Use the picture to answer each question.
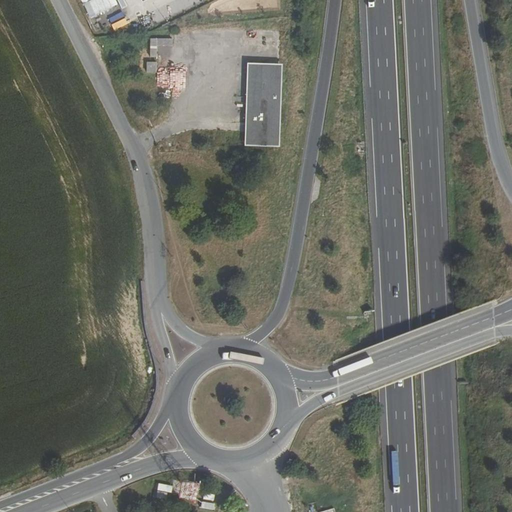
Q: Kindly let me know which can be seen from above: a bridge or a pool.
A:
bridge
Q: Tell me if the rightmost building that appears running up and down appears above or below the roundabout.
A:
above it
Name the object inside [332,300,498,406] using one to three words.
bridge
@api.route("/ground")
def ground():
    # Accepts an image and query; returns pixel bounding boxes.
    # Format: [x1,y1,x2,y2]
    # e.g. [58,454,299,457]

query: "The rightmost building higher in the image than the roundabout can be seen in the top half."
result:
[245,62,282,147]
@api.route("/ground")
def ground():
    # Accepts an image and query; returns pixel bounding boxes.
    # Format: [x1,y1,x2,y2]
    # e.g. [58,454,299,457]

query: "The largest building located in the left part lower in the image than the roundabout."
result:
[178,482,200,504]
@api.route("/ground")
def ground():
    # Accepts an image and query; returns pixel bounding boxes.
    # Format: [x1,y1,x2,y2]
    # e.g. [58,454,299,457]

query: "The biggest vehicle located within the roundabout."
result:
[222,352,264,364]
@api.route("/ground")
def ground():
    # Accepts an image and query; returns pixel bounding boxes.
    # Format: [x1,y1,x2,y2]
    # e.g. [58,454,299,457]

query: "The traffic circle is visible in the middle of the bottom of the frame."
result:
[136,313,325,476]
